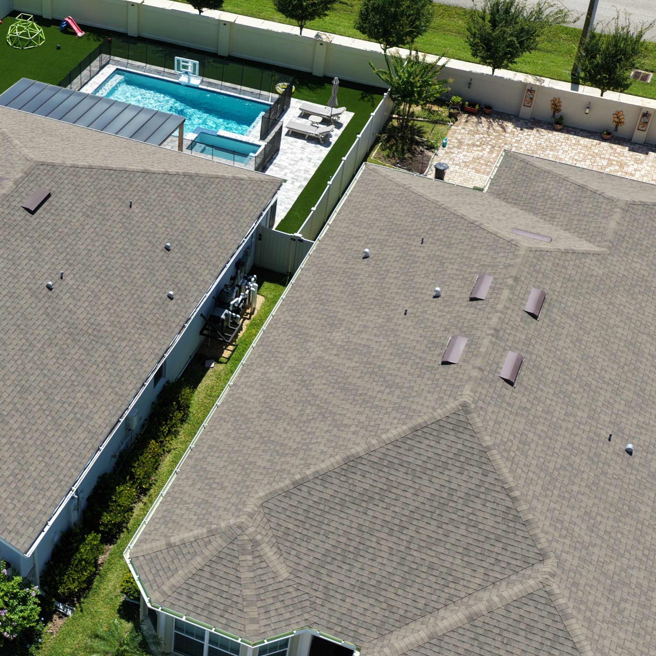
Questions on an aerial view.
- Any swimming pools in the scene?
Yes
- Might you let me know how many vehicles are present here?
0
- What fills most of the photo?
buildings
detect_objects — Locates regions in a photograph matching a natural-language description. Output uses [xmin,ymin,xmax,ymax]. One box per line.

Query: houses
[0,110,286,626]
[124,150,656,656]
